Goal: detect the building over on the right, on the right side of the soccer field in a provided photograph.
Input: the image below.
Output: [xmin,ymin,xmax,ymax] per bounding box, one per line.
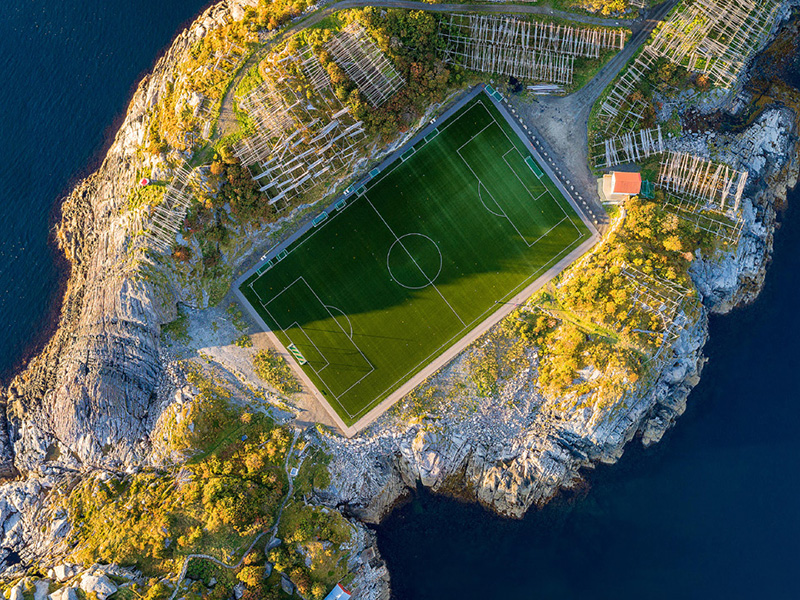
[614,172,645,194]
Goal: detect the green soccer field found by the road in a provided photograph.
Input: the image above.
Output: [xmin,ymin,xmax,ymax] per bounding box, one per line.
[241,91,592,427]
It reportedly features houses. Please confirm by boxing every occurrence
[614,172,645,194]
[323,584,351,600]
